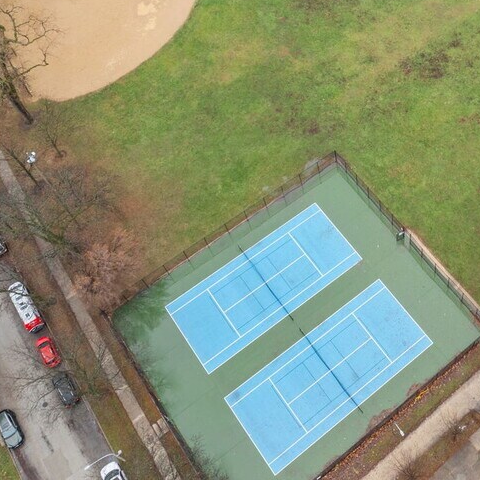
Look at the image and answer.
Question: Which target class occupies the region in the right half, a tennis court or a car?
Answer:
tennis court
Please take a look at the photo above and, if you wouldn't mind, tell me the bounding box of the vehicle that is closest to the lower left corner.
[0,407,26,451]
